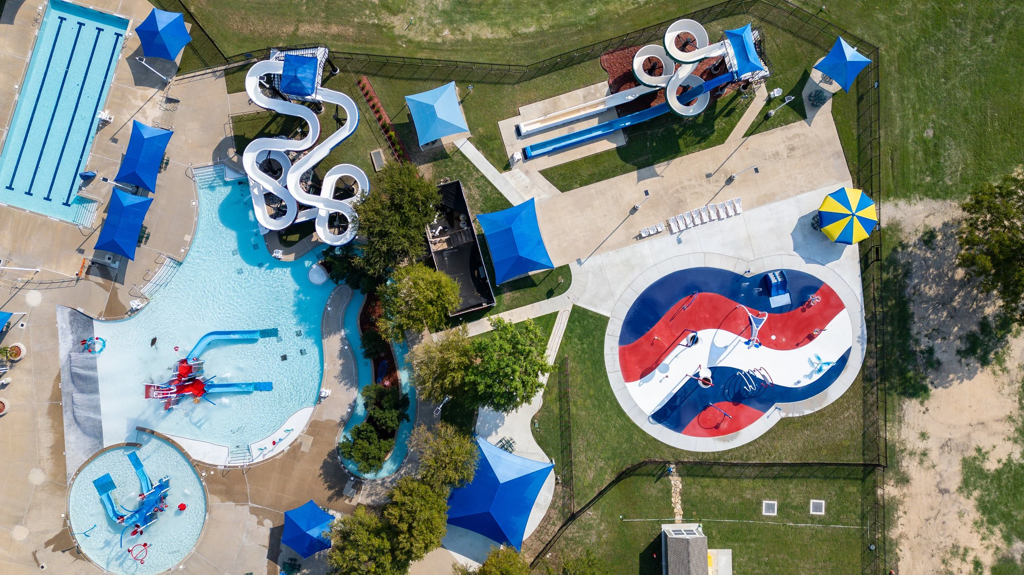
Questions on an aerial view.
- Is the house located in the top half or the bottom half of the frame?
bottom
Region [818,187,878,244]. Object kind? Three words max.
umbrella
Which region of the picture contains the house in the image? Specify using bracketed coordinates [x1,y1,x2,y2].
[664,528,711,575]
